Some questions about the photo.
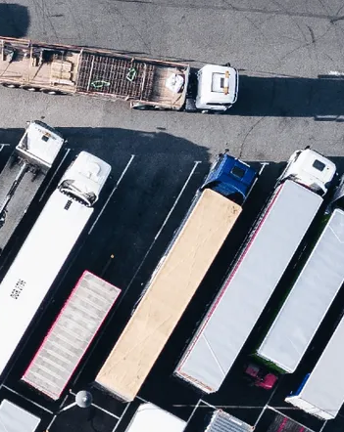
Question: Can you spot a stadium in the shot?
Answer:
No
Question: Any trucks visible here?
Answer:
Yes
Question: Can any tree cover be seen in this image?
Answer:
No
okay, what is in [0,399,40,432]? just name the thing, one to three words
trailer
